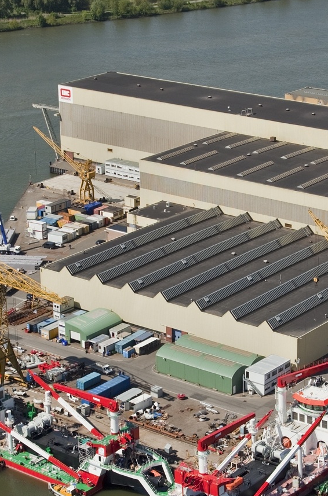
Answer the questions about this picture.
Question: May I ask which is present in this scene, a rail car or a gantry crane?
gantry crane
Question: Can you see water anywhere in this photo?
Yes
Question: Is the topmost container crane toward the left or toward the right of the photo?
left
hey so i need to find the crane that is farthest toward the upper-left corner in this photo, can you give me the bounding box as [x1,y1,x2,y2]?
[33,127,98,202]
